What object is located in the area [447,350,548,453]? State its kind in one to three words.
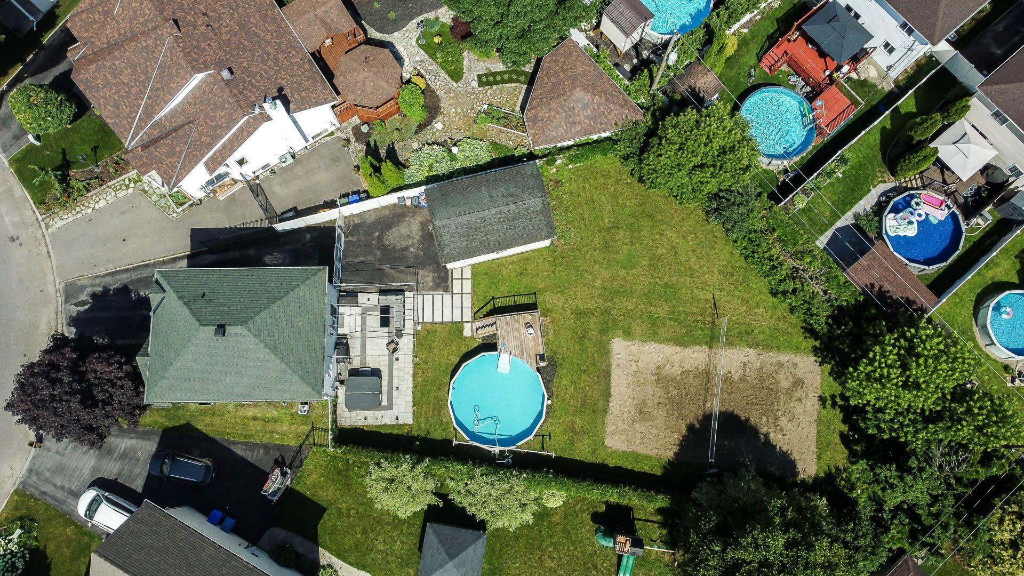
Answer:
swimming pool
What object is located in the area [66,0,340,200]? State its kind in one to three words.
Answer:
house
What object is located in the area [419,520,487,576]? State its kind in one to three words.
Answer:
building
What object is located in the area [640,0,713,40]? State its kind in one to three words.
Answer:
swimming pool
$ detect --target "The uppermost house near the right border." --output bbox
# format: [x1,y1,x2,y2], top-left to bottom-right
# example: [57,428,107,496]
[837,0,990,80]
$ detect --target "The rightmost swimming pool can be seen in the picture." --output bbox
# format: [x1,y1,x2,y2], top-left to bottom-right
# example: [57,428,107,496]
[972,288,1024,363]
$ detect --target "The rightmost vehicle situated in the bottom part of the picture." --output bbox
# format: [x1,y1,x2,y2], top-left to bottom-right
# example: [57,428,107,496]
[149,450,222,488]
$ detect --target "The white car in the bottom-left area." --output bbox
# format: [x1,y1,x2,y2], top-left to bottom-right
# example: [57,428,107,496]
[74,493,134,538]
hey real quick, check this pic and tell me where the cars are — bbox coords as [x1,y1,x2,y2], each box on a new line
[149,450,222,488]
[74,493,134,538]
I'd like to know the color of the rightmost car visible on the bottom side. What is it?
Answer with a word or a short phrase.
black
